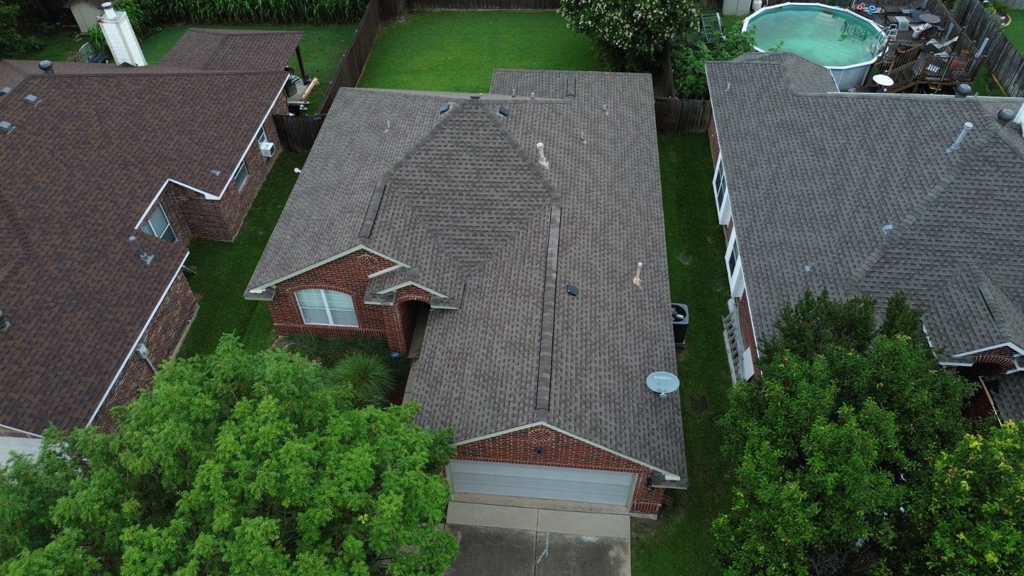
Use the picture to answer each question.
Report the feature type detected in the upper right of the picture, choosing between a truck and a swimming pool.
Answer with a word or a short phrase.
swimming pool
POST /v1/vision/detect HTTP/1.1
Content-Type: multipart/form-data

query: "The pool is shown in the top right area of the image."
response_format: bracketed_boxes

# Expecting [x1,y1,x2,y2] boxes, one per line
[740,1,885,92]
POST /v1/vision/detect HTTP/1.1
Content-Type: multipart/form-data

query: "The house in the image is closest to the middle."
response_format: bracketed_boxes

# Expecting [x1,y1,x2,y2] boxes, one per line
[245,70,688,518]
